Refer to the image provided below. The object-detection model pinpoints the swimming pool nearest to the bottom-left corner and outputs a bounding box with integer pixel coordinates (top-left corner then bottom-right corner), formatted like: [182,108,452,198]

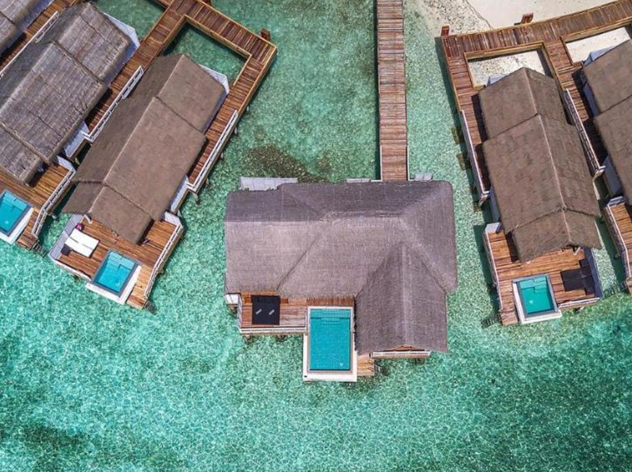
[86,249,145,307]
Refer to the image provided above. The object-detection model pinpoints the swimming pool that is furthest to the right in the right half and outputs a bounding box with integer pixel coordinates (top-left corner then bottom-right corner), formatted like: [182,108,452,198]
[510,275,562,326]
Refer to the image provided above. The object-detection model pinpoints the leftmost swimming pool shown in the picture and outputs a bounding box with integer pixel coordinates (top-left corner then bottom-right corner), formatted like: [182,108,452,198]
[0,189,37,246]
